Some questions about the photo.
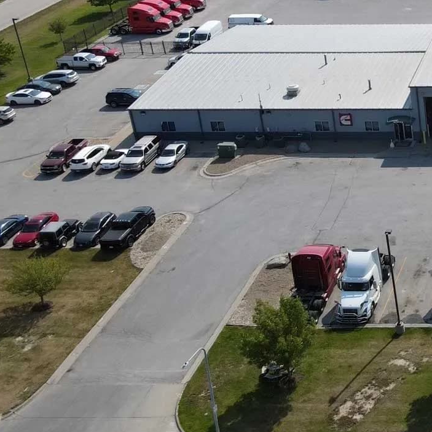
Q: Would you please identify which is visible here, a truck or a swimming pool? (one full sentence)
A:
Looking from above, you can make out a truck.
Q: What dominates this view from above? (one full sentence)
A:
What you mostly see from above here is paved ground.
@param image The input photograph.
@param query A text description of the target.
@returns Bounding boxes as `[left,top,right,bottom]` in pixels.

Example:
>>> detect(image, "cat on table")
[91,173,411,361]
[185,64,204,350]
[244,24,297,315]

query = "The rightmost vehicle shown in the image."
[332,240,390,322]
